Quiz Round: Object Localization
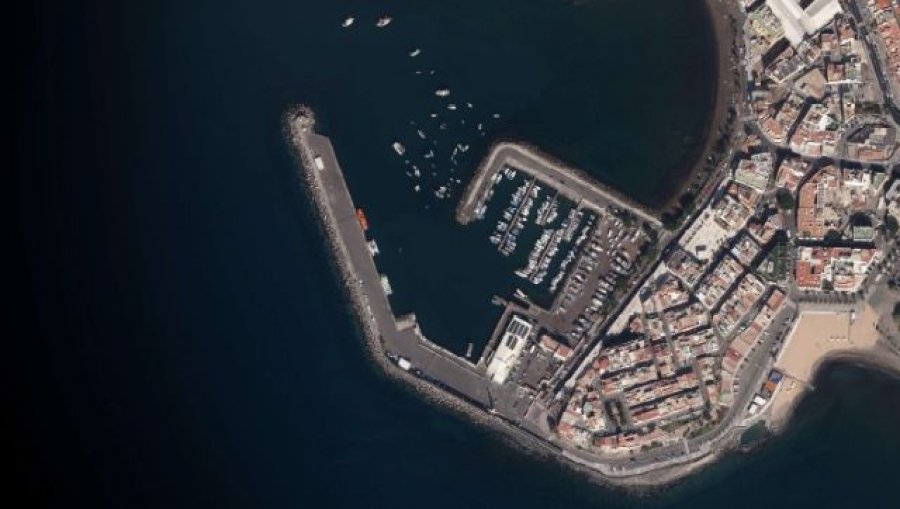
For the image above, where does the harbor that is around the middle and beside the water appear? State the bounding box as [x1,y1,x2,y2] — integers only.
[307,134,669,440]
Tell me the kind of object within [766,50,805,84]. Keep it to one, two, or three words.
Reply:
building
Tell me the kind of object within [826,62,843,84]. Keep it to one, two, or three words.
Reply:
house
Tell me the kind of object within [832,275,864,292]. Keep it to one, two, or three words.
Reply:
building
